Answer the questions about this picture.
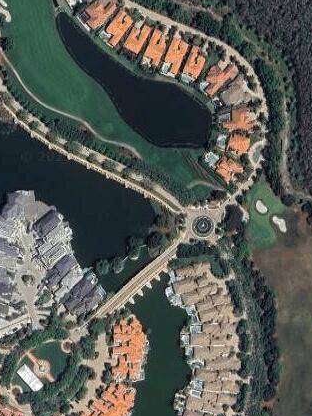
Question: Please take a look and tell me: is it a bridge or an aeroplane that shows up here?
bridge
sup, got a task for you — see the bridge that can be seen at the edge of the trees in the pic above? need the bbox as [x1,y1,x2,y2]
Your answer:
[89,232,195,324]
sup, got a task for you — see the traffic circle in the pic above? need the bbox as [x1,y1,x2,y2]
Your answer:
[185,209,220,243]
